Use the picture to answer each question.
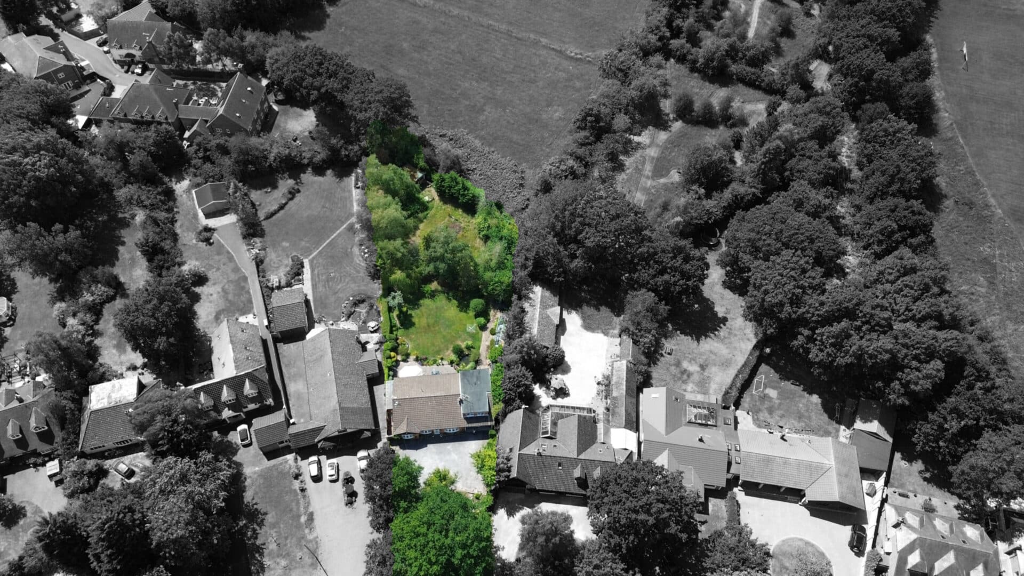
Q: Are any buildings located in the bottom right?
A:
Yes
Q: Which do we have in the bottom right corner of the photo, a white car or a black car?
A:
black car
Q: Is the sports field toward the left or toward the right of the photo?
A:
right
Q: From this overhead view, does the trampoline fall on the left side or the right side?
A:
right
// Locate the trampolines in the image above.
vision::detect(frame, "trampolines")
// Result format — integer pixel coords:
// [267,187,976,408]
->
[700,225,723,247]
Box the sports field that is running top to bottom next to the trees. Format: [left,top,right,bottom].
[930,0,1024,241]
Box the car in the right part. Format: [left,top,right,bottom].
[847,521,868,557]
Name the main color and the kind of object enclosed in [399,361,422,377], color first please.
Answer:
white umbrella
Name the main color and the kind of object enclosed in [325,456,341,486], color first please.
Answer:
white car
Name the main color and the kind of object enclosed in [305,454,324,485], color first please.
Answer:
white car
